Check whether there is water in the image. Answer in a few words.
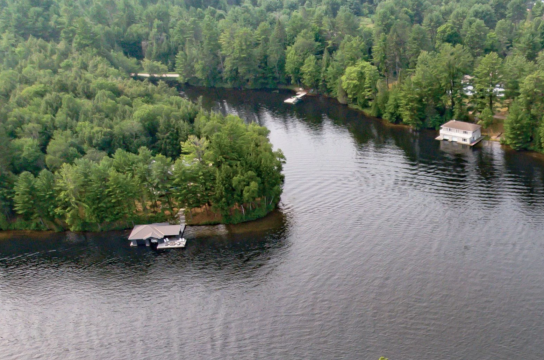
Yes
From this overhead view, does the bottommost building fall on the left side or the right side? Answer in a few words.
left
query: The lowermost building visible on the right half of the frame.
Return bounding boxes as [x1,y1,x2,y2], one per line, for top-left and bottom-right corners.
[437,117,477,144]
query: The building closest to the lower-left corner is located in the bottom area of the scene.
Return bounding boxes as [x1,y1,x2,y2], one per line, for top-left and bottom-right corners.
[122,223,190,249]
